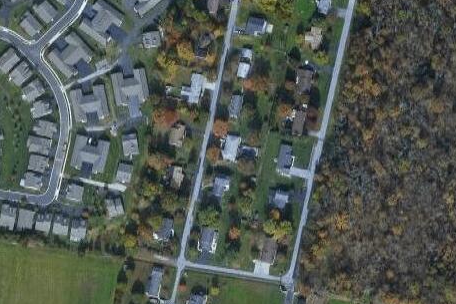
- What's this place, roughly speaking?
residential area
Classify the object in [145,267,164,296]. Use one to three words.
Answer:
house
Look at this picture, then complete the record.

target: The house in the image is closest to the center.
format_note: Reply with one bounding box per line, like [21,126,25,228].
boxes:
[222,135,241,160]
